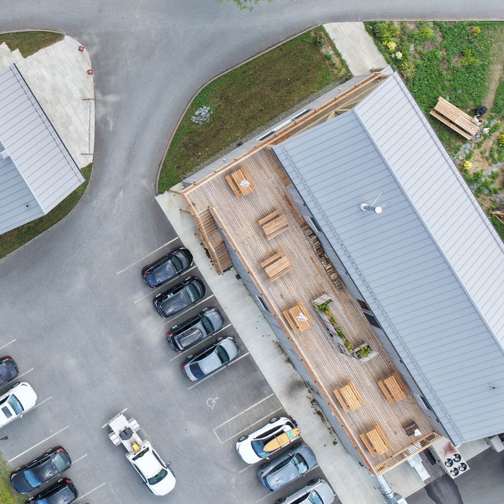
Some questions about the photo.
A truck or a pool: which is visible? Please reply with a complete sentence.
It is a truck that can be seen here.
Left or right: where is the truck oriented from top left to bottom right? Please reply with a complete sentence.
The truck oriented from top left to bottom right sits on the left side.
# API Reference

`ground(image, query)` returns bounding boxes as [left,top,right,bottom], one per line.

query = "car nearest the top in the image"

[143,245,192,287]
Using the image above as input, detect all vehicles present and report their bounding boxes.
[260,443,318,492]
[276,479,335,504]
[26,477,77,504]
[12,448,70,493]
[0,380,38,430]
[181,335,238,382]
[143,245,192,287]
[167,306,223,353]
[237,417,299,463]
[0,356,18,387]
[106,411,179,498]
[154,275,205,318]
